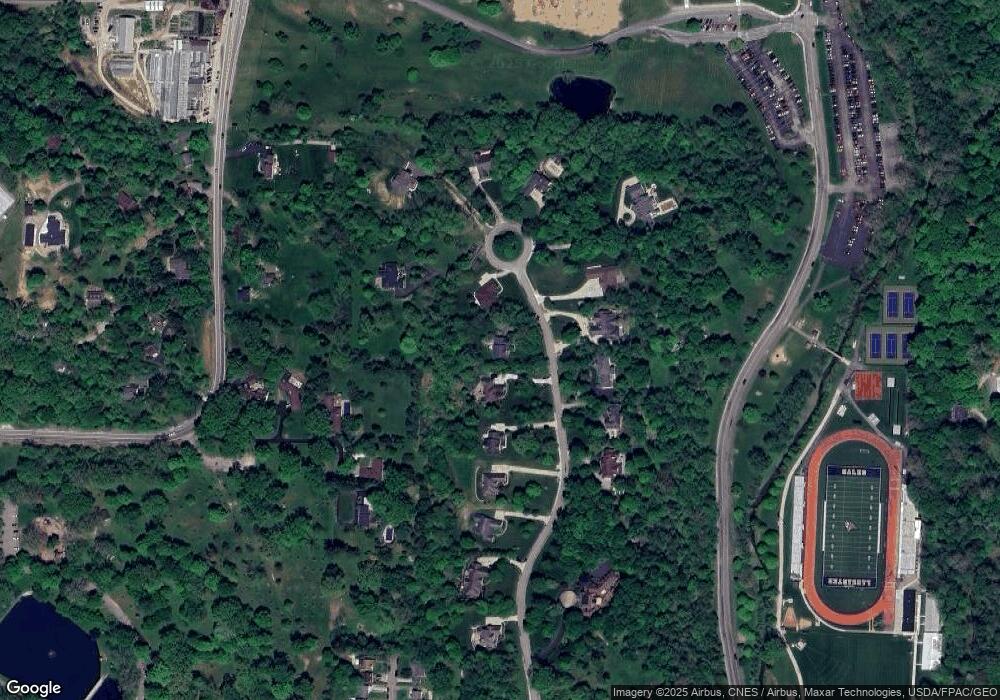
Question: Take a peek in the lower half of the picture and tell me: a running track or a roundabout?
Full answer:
It is a running track that can be seen in the lower half of the picture.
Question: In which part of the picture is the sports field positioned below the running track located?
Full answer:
You can find the sports field positioned below the running track in the bottom right area of the picture.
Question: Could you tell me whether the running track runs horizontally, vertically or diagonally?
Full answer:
The running track is laid out vertically.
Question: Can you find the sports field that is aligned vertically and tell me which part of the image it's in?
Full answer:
The sports field that is aligned vertically is located in the bottom right region of the scene.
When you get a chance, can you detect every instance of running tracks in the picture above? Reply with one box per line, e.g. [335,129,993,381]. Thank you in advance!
[804,430,901,633]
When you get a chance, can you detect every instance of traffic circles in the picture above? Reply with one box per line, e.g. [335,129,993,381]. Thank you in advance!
[485,222,533,270]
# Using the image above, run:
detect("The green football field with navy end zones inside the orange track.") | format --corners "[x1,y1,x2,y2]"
[814,440,889,613]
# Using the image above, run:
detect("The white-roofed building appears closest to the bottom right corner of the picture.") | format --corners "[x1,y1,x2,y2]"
[924,633,944,671]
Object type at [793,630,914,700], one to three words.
sports field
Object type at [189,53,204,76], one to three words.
greenhouse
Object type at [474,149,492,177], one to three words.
house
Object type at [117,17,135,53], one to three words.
barn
